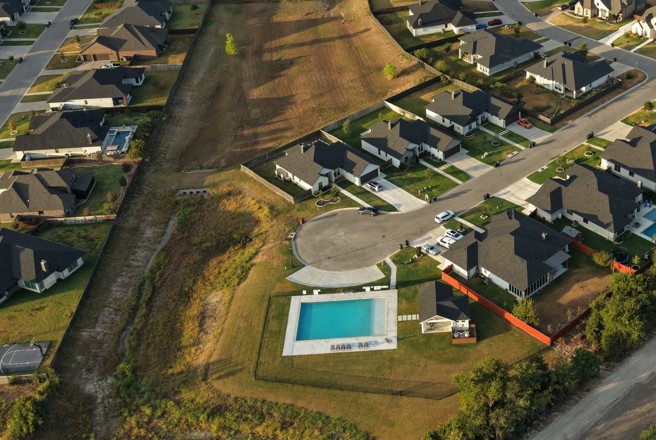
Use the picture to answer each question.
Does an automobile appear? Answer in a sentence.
Yes, you can see an automobile in this photo.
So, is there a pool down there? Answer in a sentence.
Yes, the image includes a pool.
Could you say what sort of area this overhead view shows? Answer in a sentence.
The picture captures a residential area.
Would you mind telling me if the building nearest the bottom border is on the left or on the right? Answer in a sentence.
You can find the building nearest the bottom border on the right side of the picture.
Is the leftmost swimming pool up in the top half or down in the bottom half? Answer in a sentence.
The leftmost swimming pool sits in the top half of the picture.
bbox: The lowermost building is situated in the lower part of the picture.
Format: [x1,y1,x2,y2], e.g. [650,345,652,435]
[419,277,472,334]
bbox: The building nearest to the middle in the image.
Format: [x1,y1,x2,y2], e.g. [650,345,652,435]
[275,134,381,199]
